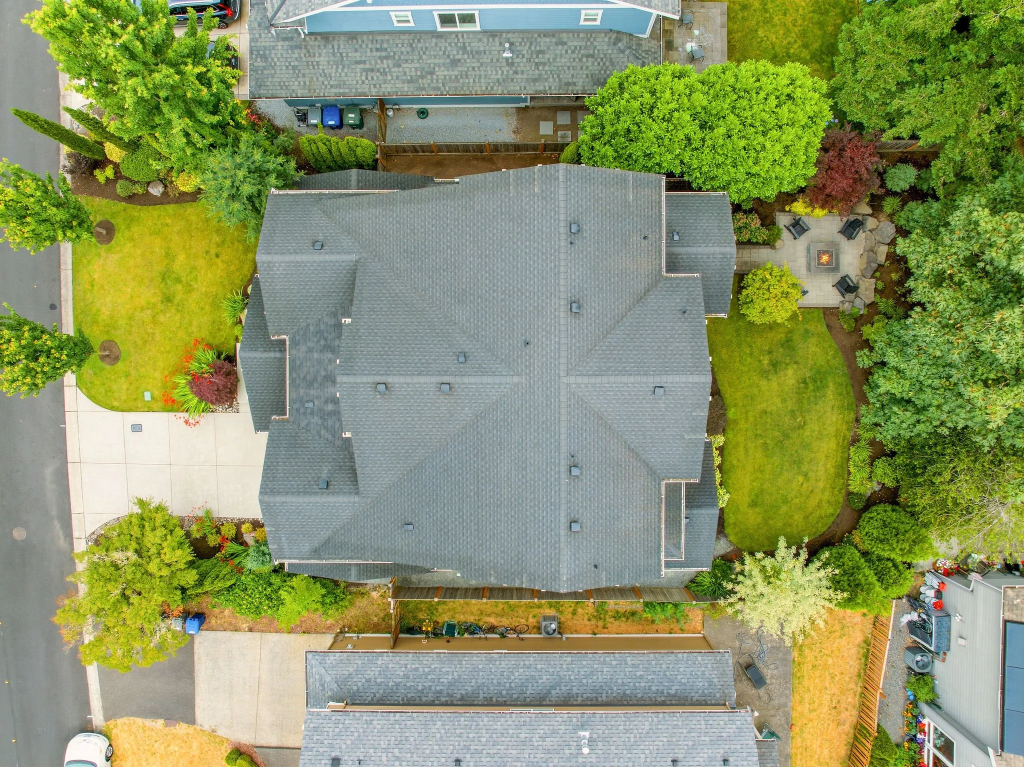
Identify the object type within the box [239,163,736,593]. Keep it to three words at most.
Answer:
house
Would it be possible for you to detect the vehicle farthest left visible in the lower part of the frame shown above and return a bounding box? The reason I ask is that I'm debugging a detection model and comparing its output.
[61,731,117,767]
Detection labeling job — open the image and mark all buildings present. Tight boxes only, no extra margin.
[297,630,779,767]
[925,565,1024,767]
[239,163,736,593]
[234,0,682,108]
